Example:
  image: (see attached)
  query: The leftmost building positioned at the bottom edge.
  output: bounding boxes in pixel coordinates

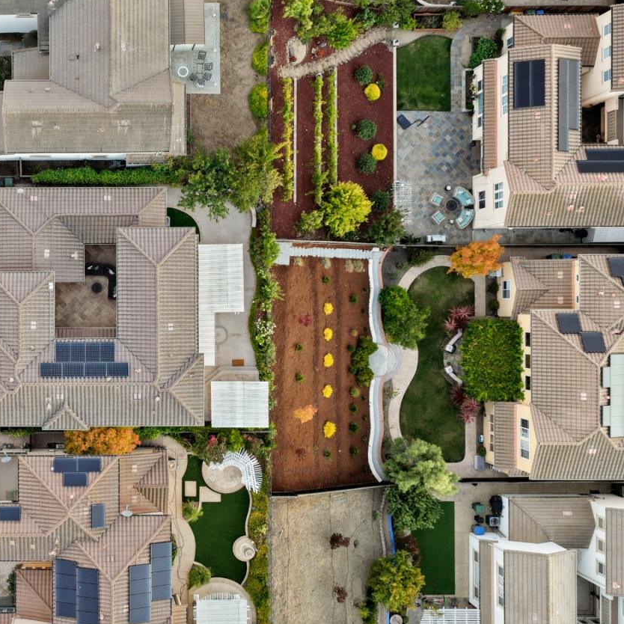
[0,448,188,624]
